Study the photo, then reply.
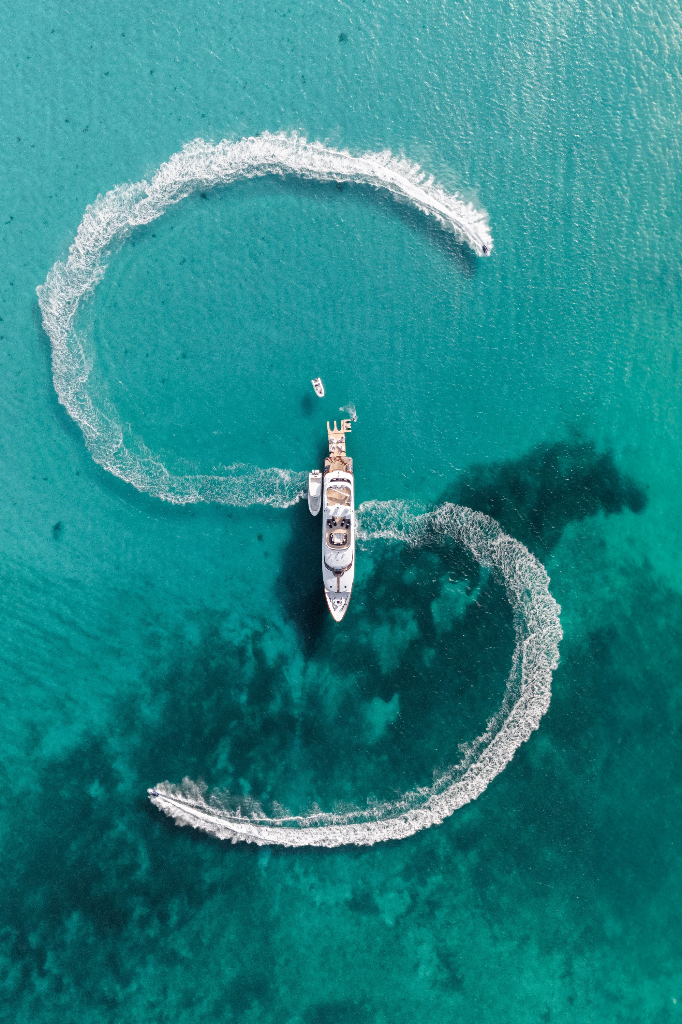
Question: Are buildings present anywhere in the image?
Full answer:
No, this view has no building in it.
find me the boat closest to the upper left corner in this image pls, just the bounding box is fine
[311,377,324,396]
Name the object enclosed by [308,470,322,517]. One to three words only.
boat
